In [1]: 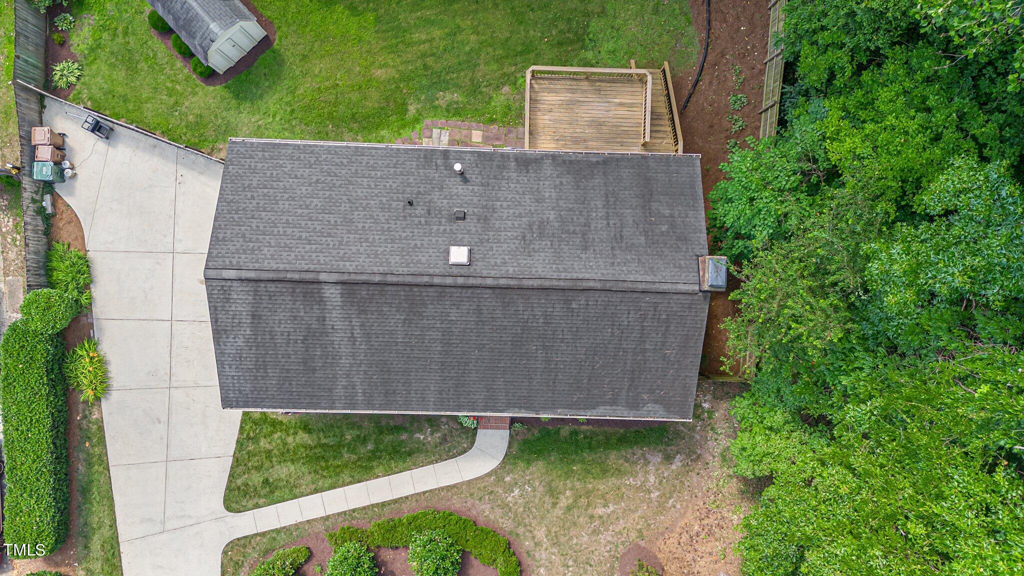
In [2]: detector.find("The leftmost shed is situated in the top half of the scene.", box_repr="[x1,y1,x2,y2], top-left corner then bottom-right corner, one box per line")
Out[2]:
[147,0,268,76]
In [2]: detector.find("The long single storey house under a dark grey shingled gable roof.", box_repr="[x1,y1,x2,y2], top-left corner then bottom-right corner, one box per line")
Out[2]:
[203,139,729,422]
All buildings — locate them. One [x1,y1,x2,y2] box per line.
[203,139,729,422]
[147,0,268,76]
